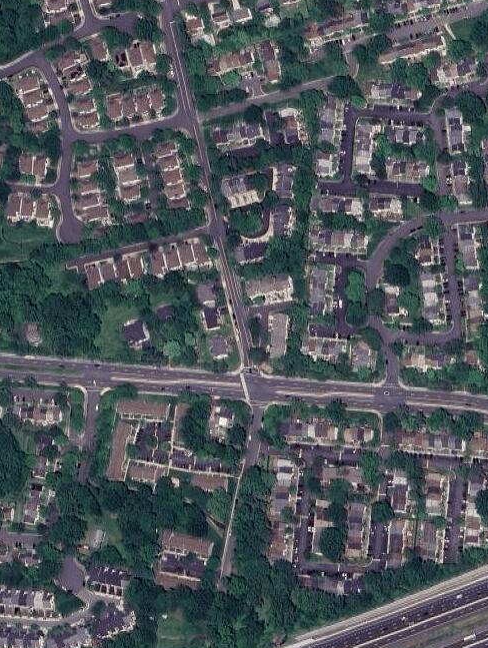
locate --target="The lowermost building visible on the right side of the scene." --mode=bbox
[298,575,366,597]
